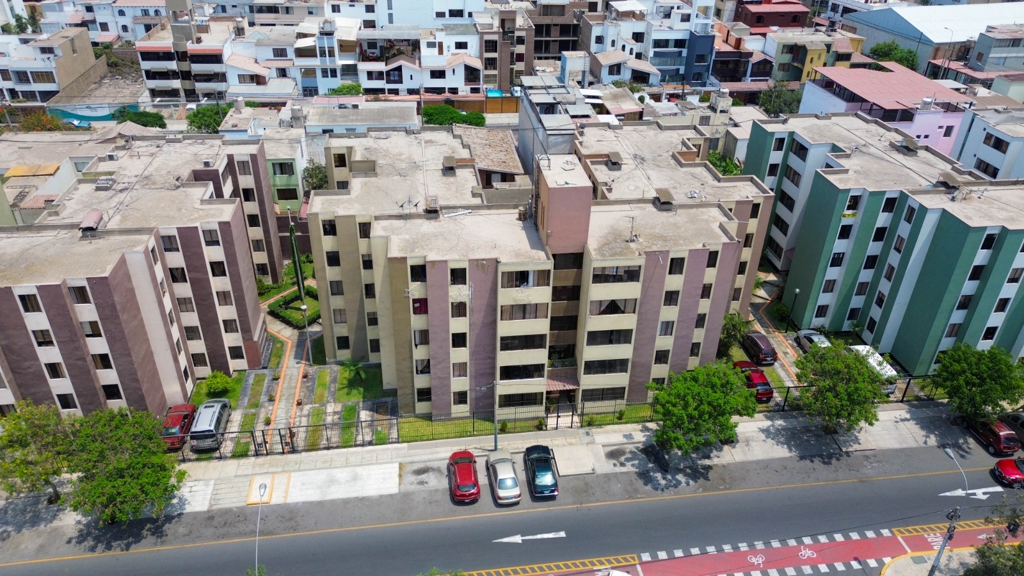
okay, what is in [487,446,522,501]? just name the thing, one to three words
car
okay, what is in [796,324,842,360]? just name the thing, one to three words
car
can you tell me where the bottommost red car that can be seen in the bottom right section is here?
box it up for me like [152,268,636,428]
[987,452,1024,487]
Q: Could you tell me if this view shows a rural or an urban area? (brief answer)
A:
urban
